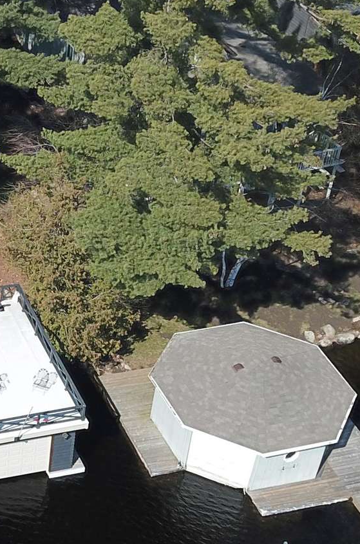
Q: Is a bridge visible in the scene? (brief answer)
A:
No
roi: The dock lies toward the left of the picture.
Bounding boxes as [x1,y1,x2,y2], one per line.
[98,370,190,483]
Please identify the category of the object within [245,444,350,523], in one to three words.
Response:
pier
